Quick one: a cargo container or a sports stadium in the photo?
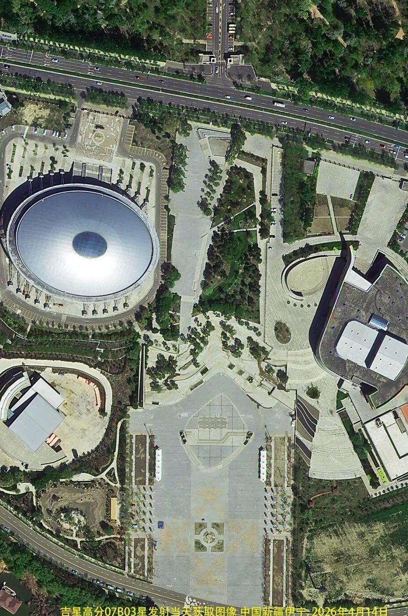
sports stadium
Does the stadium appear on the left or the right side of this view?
left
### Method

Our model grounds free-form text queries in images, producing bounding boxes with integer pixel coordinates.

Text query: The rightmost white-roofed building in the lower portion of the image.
[363,403,408,482]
